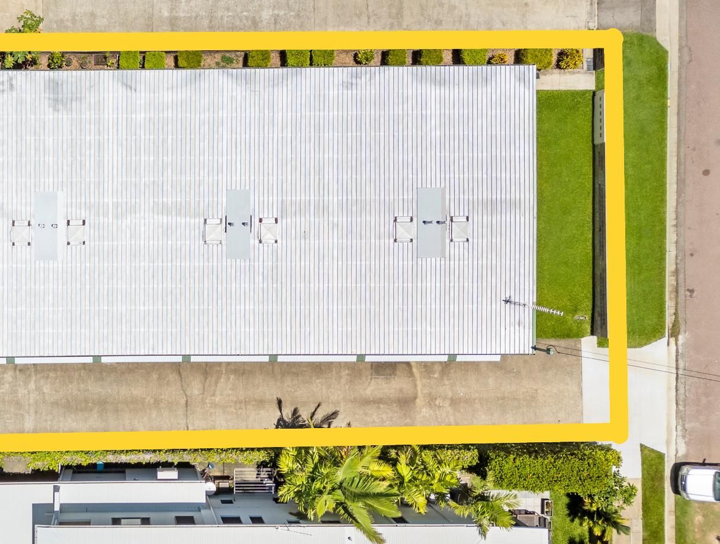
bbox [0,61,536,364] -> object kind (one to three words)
building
